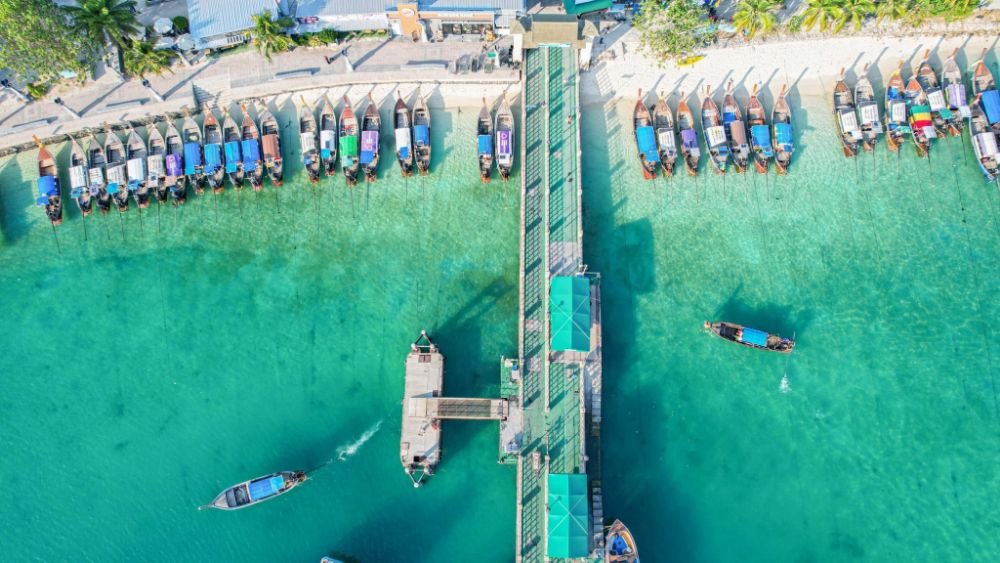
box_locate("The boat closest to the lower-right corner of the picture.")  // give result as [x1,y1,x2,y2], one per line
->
[704,325,793,385]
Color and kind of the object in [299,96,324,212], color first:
white boat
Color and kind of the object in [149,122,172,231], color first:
white boat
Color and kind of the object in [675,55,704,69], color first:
yellow boat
